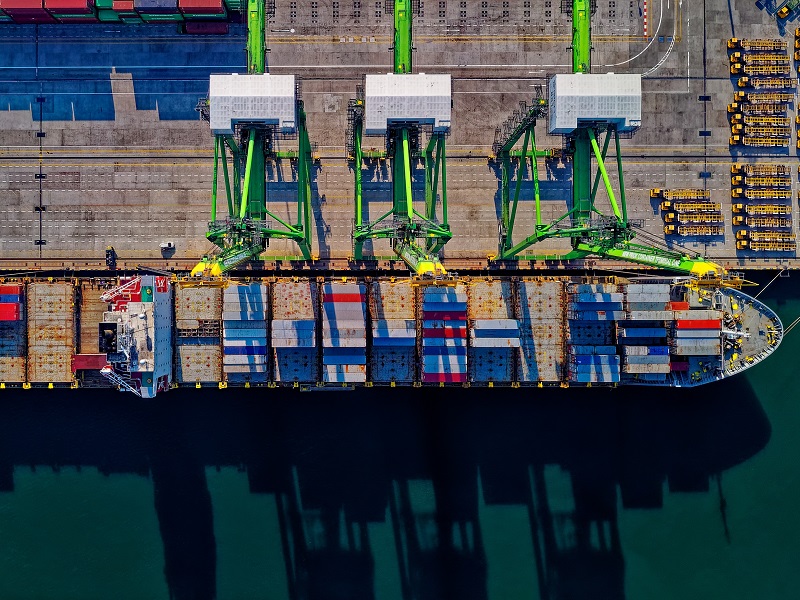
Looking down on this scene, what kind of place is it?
port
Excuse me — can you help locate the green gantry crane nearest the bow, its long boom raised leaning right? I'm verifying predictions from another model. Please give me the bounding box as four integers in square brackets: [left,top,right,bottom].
[482,0,756,291]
